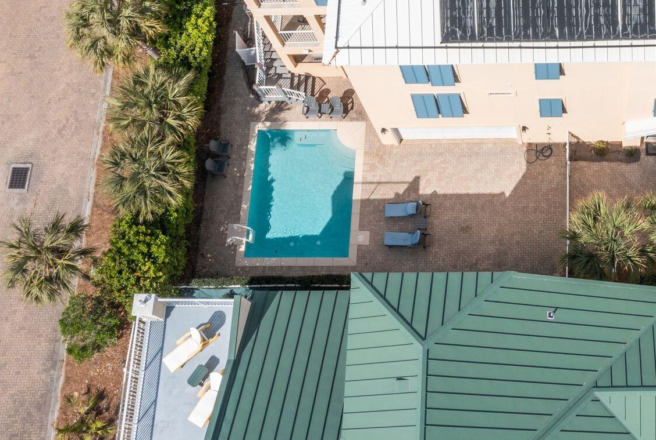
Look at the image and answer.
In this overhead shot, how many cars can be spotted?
0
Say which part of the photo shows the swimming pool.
center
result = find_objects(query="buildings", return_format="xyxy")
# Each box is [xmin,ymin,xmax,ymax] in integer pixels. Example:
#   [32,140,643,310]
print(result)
[241,0,656,149]
[120,268,656,440]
